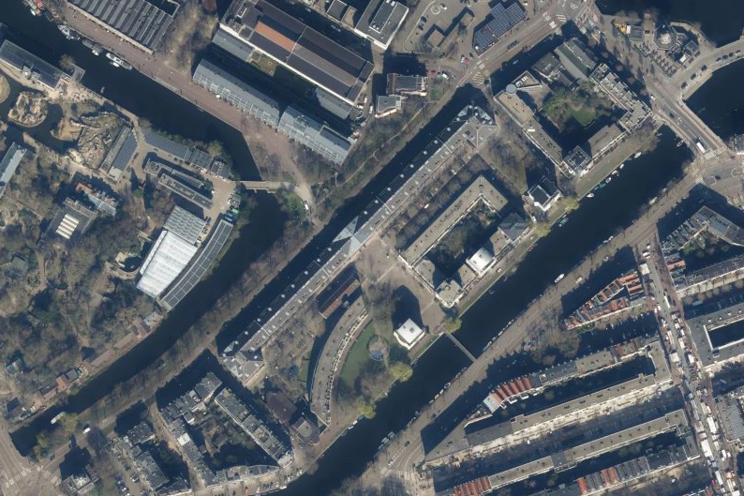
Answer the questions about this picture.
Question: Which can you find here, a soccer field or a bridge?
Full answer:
I can see a bridge in this picture.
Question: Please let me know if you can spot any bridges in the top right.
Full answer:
Yes, a bridge appears in the top right.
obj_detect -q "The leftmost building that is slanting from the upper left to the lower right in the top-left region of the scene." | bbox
[0,40,62,90]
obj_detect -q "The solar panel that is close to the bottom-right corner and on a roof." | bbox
[725,405,744,439]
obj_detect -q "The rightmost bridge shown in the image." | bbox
[662,100,735,158]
